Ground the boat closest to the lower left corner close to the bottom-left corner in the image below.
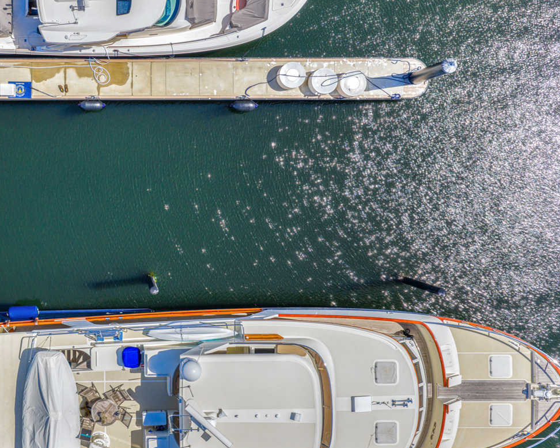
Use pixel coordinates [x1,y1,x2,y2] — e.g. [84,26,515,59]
[22,339,82,448]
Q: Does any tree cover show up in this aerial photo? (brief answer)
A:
No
